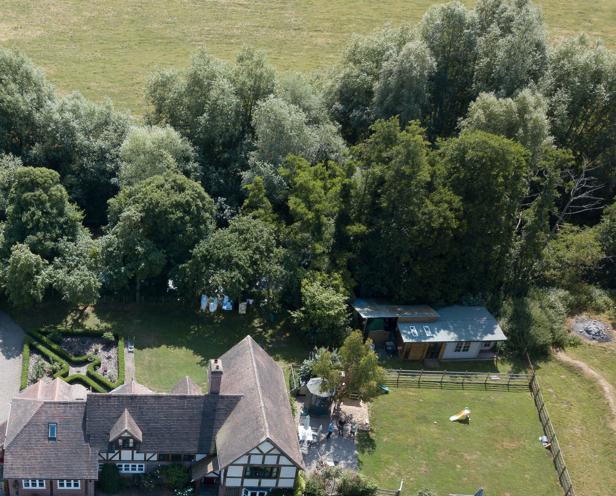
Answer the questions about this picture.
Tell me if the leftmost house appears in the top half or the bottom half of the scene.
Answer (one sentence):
You can find the leftmost house in the bottom half.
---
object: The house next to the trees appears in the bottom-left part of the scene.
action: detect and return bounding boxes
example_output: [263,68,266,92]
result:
[0,334,307,496]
